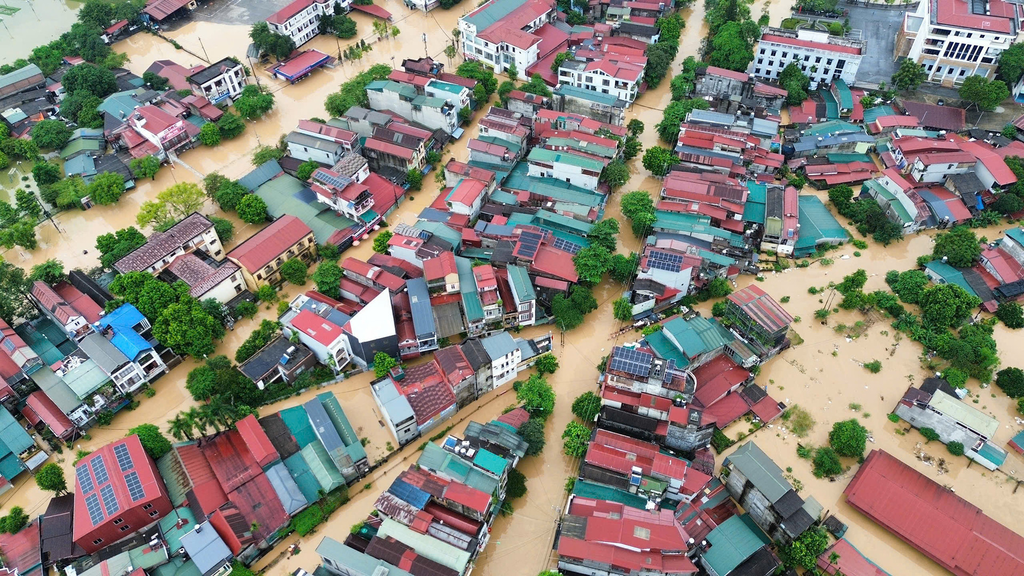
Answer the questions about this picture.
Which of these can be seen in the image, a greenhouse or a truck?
greenhouse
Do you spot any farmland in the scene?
No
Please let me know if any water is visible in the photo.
Yes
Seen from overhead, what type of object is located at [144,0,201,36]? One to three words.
shed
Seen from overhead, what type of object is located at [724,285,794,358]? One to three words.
greenhouse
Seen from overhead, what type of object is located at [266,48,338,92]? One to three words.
gas station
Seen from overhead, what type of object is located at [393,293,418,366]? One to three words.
house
